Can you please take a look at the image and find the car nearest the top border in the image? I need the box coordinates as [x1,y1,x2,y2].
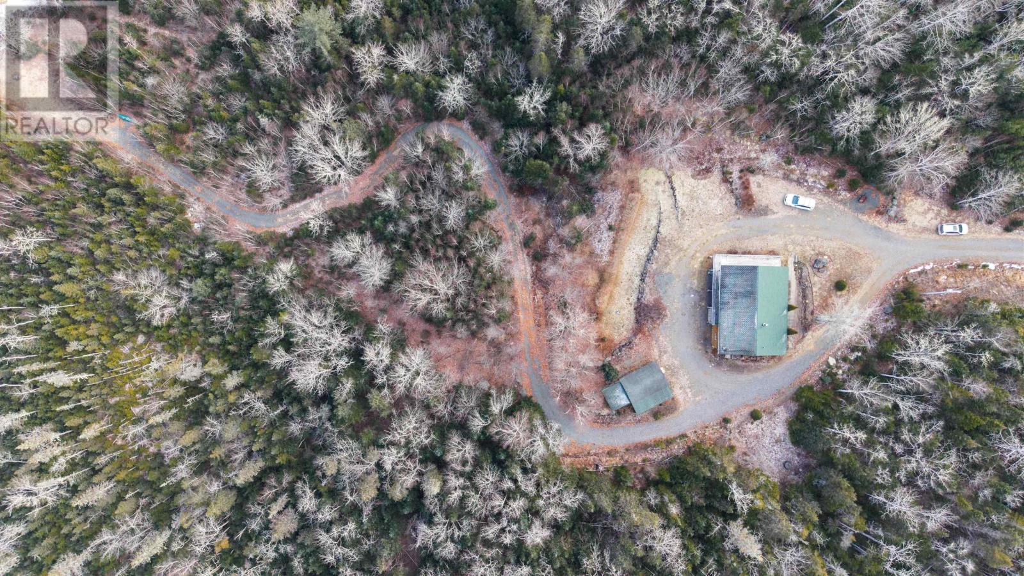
[784,194,817,210]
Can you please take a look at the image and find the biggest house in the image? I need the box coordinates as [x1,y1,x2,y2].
[702,253,788,356]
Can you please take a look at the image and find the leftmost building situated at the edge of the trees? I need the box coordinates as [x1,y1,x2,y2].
[602,361,673,414]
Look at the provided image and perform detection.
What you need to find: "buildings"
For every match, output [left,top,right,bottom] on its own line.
[702,253,788,356]
[602,361,673,414]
